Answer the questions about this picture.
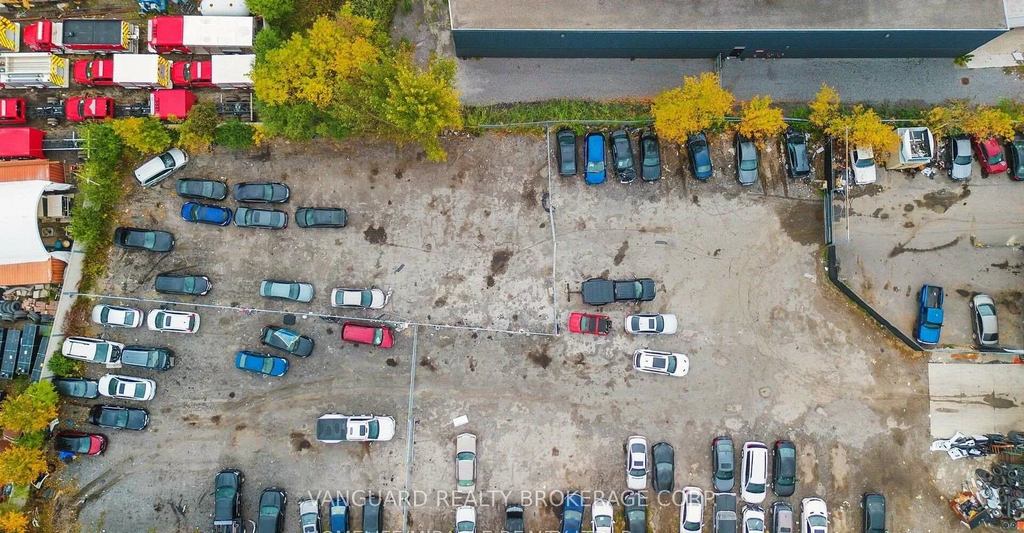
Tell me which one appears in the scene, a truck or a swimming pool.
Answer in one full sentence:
There is a truck in the scene.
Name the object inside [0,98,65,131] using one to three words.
truck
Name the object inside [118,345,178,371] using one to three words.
car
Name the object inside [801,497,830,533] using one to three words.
car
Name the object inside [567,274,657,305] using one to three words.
vehicle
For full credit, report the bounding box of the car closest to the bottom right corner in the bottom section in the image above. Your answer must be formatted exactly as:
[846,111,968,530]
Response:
[861,492,889,533]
